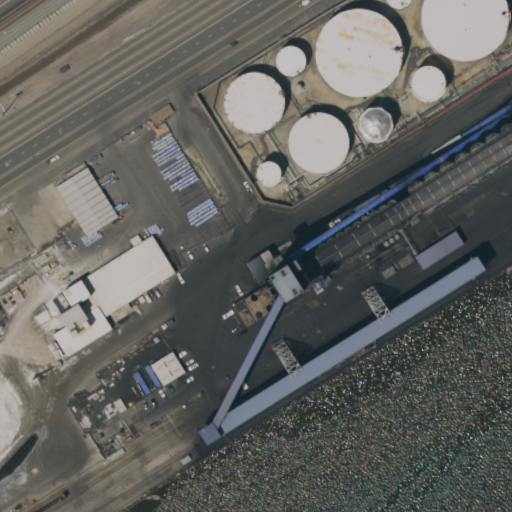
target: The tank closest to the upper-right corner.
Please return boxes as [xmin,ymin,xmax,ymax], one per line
[420,0,510,63]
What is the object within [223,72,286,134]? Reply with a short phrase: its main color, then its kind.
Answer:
white storage tank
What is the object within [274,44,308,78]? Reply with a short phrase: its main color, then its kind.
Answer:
white storage tank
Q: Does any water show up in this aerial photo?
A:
Yes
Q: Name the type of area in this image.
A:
industrial area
